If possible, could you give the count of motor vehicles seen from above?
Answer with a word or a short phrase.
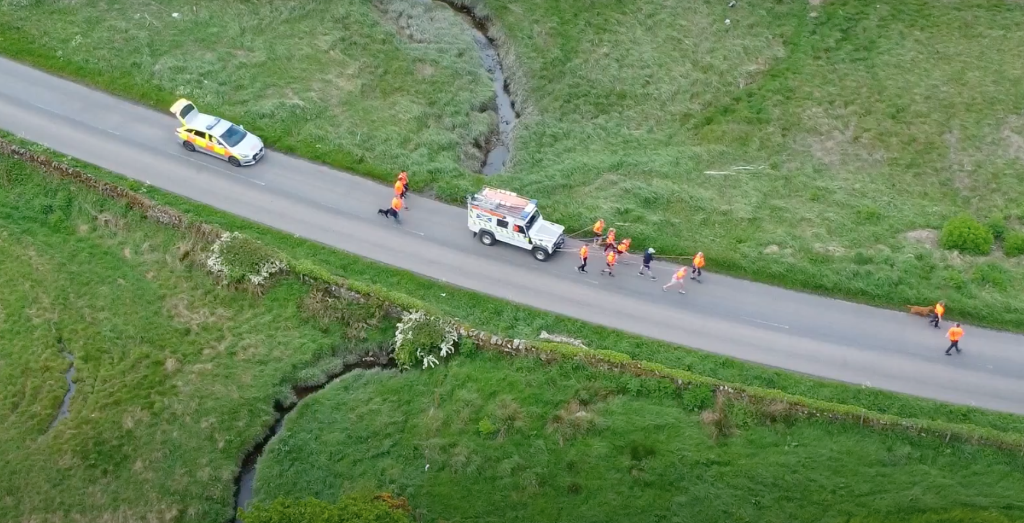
2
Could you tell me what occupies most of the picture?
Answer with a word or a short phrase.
grass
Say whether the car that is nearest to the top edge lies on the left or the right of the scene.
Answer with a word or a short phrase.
left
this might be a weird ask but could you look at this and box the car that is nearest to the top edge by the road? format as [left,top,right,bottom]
[167,96,268,168]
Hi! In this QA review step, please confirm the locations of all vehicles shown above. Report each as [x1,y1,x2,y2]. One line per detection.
[469,183,569,262]
[167,96,268,168]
